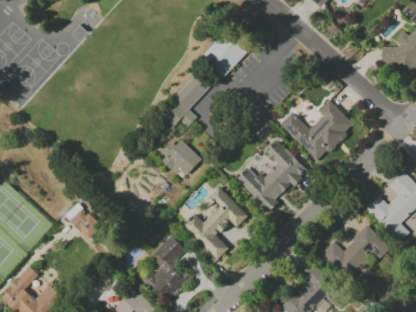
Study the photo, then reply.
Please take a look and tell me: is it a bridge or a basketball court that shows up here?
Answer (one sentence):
The one in the frame is a basketball court.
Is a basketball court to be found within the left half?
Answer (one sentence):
Yes, within the left half there is a basketball court.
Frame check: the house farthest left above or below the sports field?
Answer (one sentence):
It's below the sports field that the house farthest left shows up.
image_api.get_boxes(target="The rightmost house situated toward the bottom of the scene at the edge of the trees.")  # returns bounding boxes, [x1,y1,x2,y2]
[368,171,416,238]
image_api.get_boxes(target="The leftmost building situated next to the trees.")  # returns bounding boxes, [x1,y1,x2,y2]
[0,265,57,312]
